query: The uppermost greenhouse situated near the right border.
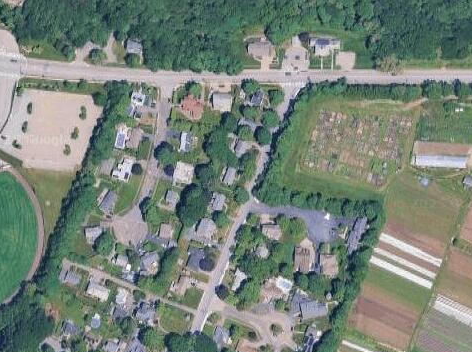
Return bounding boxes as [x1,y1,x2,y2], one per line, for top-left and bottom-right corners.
[413,155,467,168]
